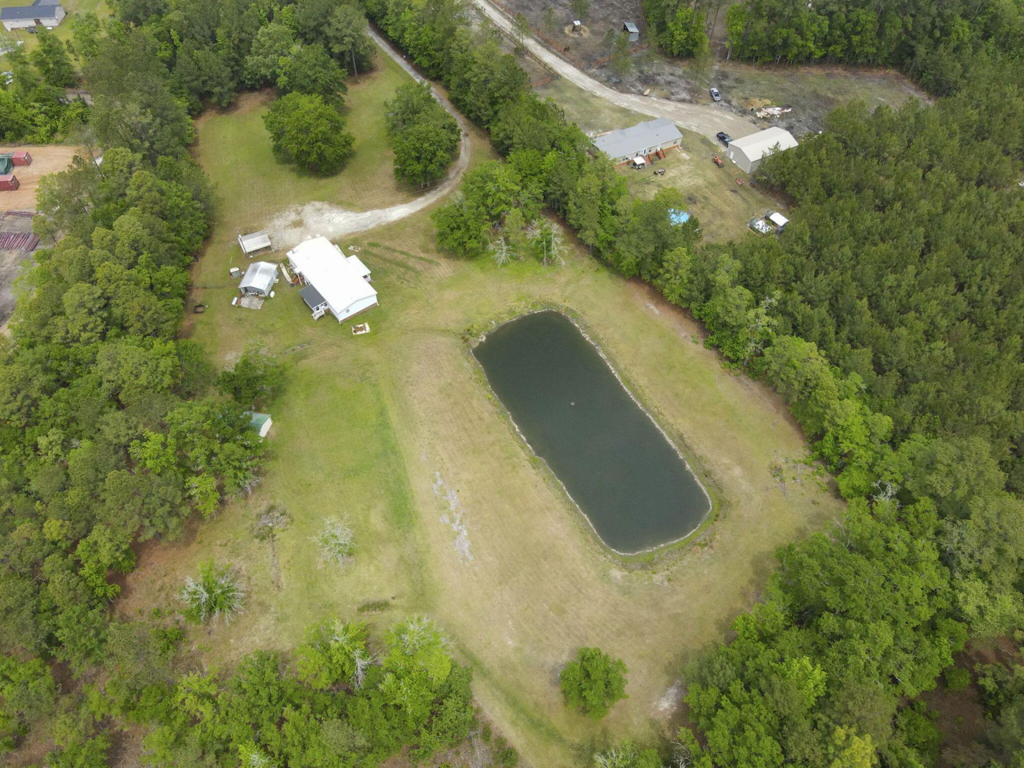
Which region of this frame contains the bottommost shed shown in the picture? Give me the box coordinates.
[244,407,273,437]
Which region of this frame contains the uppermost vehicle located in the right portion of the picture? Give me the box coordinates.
[709,88,723,100]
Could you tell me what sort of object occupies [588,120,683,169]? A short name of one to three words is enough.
house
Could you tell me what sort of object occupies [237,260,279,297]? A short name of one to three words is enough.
building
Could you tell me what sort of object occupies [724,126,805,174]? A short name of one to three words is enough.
barn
